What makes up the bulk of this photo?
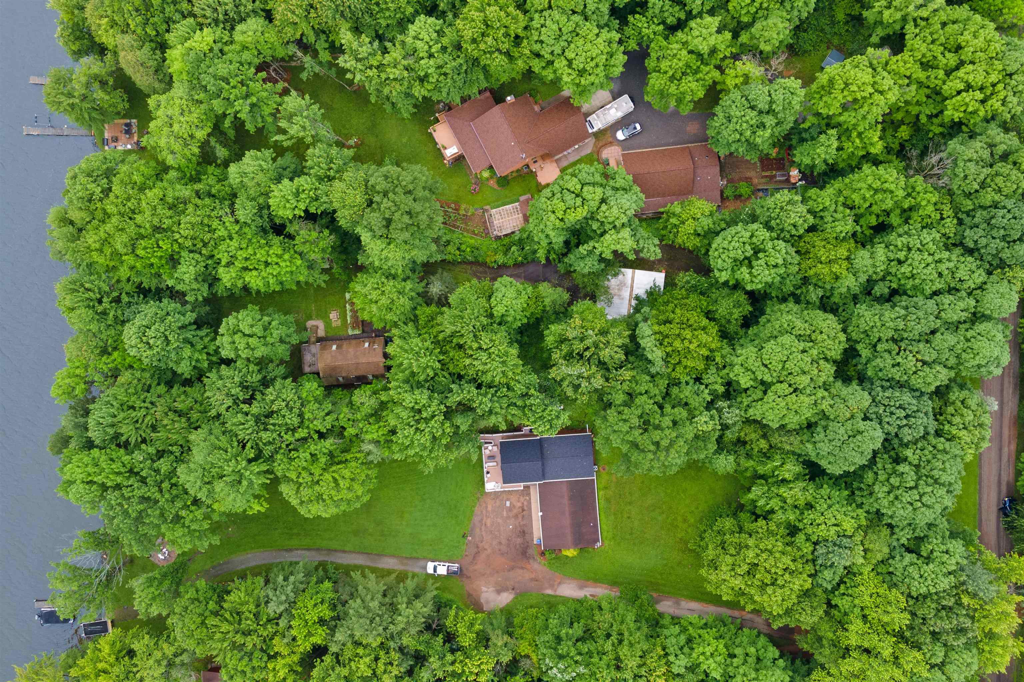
trees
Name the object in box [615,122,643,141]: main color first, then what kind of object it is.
white car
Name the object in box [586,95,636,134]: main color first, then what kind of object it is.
white camper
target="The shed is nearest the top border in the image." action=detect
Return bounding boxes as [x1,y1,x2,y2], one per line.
[818,52,845,77]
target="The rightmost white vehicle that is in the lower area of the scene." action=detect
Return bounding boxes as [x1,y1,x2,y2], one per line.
[427,561,460,576]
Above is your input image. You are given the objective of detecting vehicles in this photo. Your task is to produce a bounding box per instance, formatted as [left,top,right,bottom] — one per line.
[427,561,460,576]
[999,495,1018,520]
[586,95,636,134]
[615,122,643,141]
